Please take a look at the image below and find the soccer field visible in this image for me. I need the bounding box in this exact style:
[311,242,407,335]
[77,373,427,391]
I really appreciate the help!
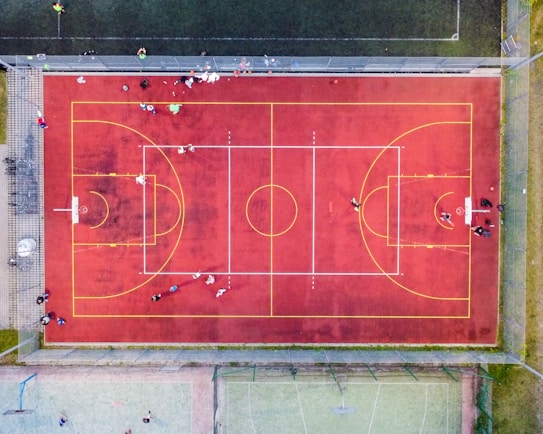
[0,0,500,68]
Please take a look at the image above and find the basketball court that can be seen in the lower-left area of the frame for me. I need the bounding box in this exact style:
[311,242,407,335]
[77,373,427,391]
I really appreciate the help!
[0,366,213,434]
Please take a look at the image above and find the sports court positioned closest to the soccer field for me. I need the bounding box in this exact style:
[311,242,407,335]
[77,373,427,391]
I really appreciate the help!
[44,75,500,344]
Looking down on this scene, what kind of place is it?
sports ground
